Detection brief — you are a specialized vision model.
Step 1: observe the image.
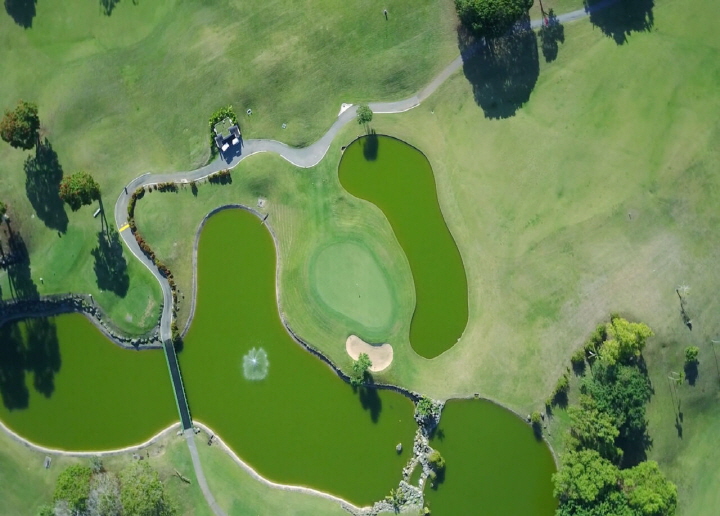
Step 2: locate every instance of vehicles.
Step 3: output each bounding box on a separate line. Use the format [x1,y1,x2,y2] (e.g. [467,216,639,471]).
[231,138,240,146]
[221,143,231,152]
